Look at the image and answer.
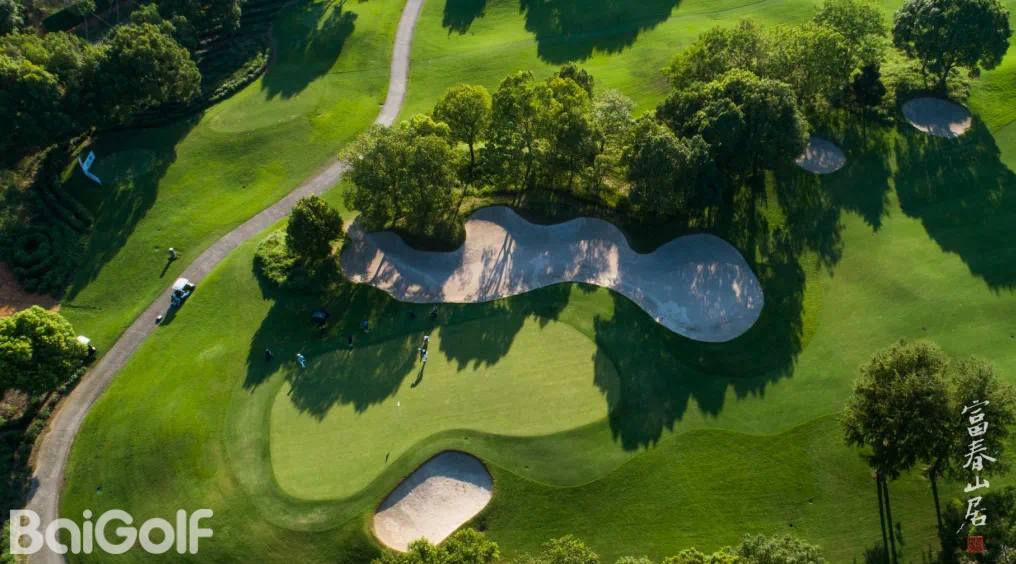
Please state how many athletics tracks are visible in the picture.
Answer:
0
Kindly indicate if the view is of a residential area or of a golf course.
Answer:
golf course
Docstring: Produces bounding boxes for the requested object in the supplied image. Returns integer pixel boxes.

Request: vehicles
[172,283,191,306]
[76,336,95,359]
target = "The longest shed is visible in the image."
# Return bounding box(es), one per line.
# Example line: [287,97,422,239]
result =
[30,7,82,40]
